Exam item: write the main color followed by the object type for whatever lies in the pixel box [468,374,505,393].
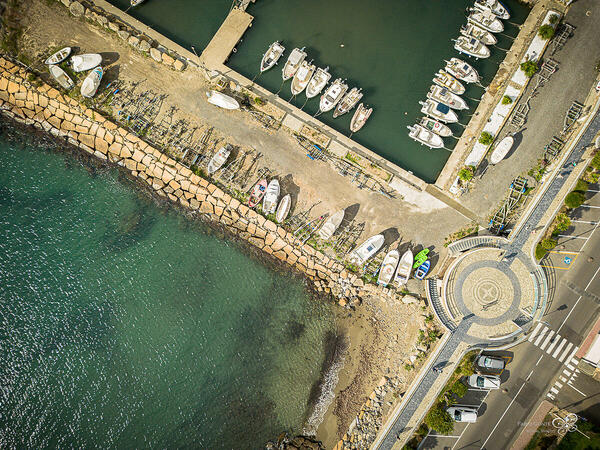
white car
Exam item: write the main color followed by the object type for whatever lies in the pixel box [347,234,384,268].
white boat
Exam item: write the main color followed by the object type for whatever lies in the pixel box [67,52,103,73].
white boat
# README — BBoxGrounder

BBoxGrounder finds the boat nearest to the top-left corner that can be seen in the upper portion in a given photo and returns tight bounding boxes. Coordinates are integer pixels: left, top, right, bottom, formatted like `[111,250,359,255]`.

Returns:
[44,48,73,65]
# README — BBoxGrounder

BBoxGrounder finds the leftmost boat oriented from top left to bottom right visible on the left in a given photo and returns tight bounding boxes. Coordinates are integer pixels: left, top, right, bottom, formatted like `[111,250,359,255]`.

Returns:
[50,64,79,93]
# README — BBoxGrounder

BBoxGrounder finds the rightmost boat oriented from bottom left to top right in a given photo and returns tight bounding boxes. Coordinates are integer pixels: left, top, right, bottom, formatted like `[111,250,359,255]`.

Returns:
[480,137,516,173]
